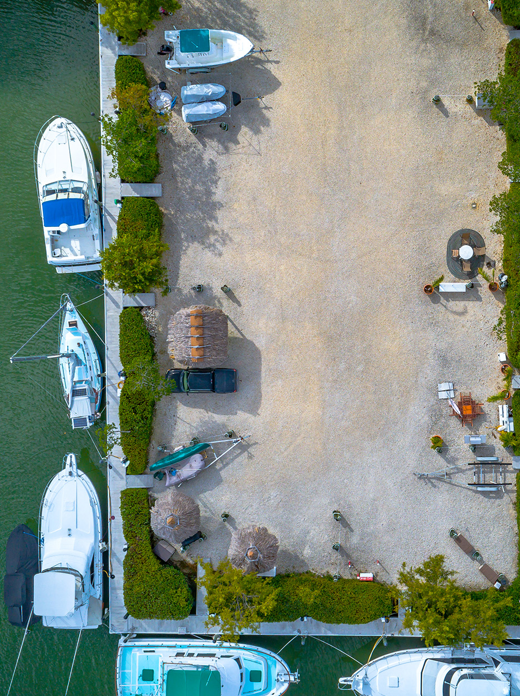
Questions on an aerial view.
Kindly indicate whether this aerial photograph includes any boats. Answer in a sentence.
Yes, a boat can be made out from above.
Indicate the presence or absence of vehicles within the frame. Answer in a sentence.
Yes, the picture does show a vehicle.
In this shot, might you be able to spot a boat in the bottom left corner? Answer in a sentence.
Yes, a boat is visible in the bottom left corner.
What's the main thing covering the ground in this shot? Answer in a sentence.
Most of the picture is covered by paved ground.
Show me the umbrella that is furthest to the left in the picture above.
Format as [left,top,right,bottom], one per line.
[150,491,203,542]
